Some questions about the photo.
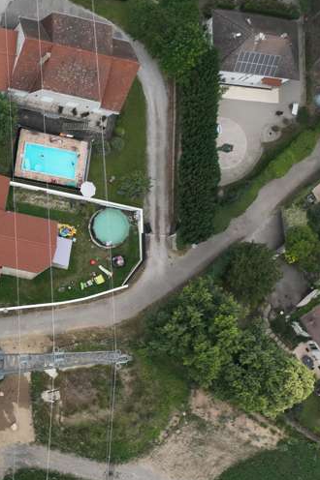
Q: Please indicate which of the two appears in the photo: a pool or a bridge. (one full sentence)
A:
The image shows a pool.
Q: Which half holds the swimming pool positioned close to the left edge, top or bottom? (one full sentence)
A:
Seen from above, the swimming pool positioned close to the left edge lies in the top half of the view.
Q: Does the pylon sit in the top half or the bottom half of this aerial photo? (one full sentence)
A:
You can find the pylon in the bottom half.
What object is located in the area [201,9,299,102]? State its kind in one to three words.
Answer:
house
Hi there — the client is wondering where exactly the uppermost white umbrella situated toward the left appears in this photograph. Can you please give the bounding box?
[78,181,96,197]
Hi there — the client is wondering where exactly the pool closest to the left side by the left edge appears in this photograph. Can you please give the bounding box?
[12,128,91,186]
